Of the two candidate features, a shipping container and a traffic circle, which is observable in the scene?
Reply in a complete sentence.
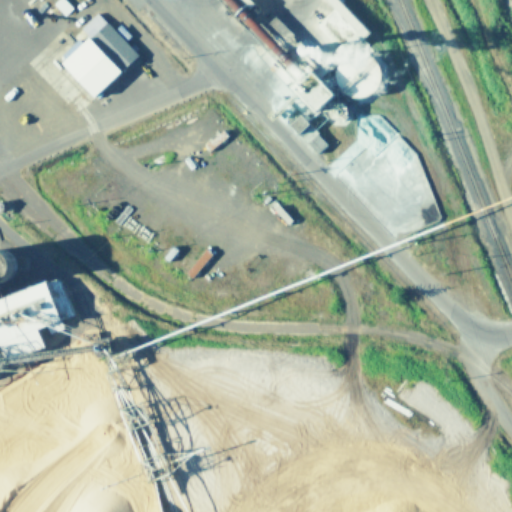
The one in the frame is a shipping container.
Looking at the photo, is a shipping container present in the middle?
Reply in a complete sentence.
Yes, in the middle there is a shipping container.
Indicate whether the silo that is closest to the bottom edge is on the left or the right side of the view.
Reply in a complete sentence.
You can find the silo that is closest to the bottom edge on the left side of the picture.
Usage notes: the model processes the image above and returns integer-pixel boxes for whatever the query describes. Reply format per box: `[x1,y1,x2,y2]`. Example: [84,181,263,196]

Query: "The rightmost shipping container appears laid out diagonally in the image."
[190,250,214,280]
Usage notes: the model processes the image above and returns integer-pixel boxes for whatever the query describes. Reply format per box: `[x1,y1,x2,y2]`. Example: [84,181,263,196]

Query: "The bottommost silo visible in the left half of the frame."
[0,250,22,288]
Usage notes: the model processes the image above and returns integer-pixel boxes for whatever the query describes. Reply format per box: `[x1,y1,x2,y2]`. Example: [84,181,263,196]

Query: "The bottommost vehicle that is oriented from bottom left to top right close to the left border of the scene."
[3,86,21,103]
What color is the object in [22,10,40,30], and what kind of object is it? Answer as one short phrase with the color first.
white vehicle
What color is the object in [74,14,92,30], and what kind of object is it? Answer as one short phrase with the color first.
white vehicle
